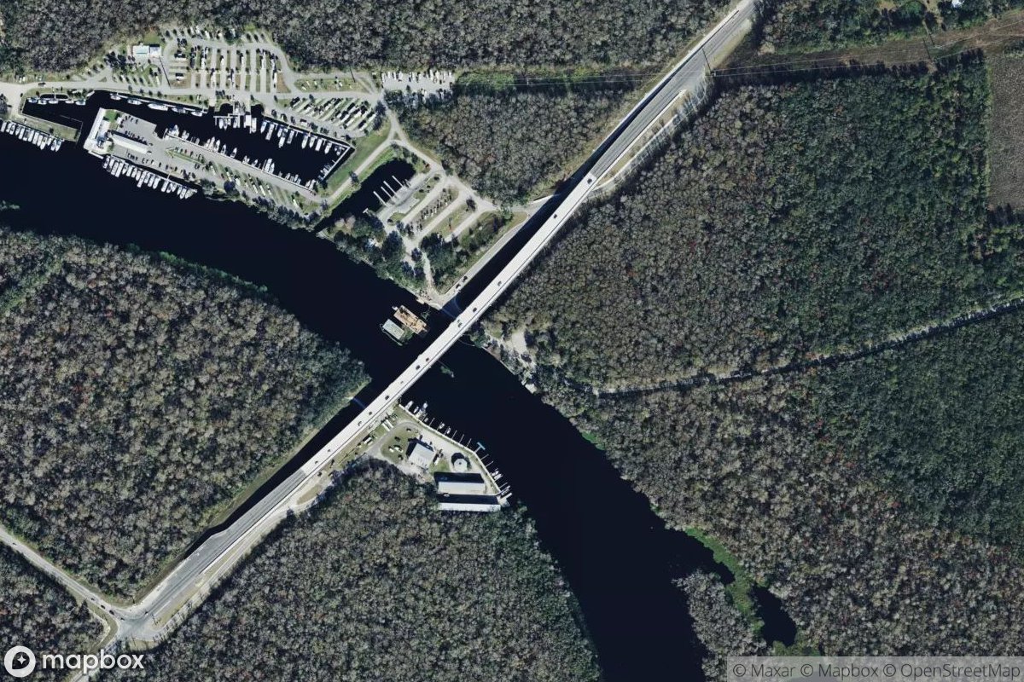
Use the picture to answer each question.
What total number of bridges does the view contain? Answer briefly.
1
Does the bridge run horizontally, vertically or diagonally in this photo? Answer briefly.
diagonally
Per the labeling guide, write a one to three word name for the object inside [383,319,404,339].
ship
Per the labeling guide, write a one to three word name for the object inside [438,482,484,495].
shed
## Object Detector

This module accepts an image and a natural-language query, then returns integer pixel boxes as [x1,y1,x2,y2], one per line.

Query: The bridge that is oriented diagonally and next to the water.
[136,9,749,625]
